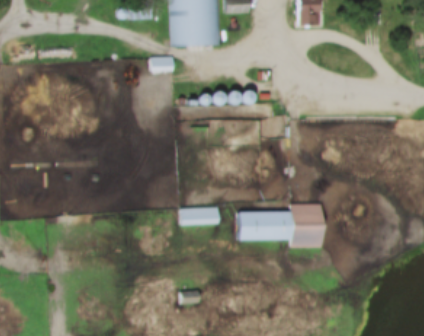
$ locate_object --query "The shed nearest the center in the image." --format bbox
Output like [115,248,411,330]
[177,208,218,226]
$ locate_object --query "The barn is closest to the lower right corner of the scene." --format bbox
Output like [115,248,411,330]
[288,204,325,248]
